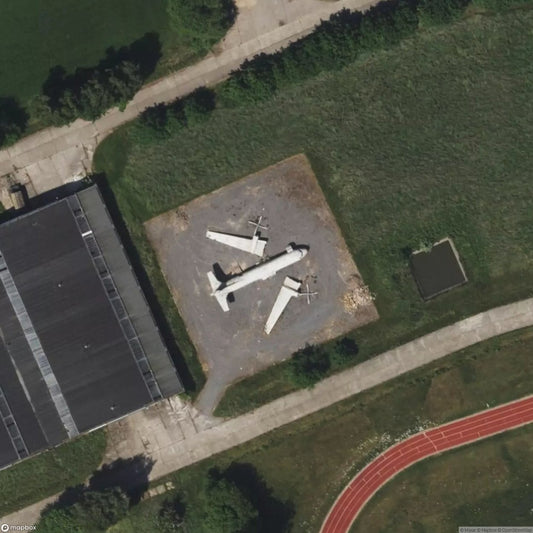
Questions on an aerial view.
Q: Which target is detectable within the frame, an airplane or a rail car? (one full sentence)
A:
It is an airplane that can be seen here.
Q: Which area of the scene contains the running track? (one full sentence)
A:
You can find the running track in the bottom right area of the picture.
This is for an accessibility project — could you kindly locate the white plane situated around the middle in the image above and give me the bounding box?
[207,248,308,311]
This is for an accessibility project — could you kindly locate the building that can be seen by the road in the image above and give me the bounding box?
[0,184,184,471]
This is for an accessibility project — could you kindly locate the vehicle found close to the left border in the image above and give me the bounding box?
[8,185,26,210]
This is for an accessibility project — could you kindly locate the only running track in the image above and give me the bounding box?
[318,395,533,533]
